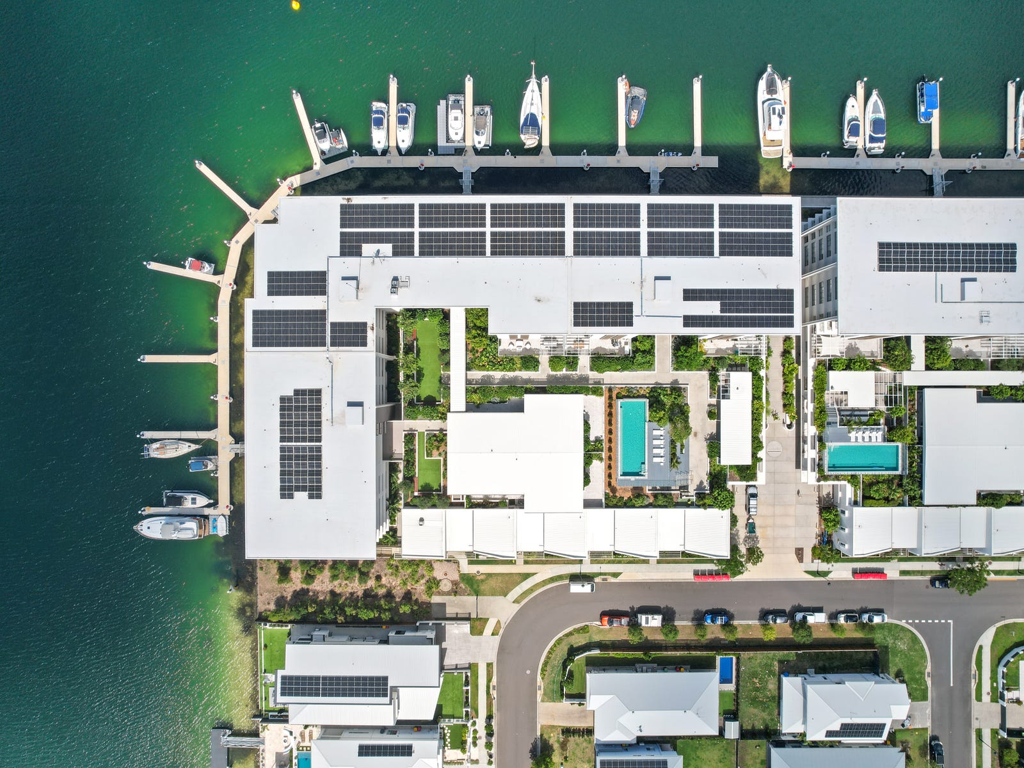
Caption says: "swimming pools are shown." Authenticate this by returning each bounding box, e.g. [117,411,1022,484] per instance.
[616,398,649,479]
[823,442,902,474]
[717,654,734,686]
[296,748,311,768]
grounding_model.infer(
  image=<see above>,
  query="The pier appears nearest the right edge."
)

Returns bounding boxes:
[1002,80,1018,159]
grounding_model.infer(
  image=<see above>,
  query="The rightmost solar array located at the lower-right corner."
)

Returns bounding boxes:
[823,725,890,739]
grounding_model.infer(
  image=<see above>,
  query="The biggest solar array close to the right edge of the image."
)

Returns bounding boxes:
[878,242,1016,272]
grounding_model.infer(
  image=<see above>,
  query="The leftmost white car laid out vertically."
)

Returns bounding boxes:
[746,487,760,516]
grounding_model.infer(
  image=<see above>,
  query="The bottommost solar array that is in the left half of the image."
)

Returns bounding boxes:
[358,744,412,757]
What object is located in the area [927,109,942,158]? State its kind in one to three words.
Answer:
pier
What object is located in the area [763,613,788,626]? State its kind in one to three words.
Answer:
vehicle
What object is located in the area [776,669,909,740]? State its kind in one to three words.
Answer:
house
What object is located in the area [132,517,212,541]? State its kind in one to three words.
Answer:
boat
